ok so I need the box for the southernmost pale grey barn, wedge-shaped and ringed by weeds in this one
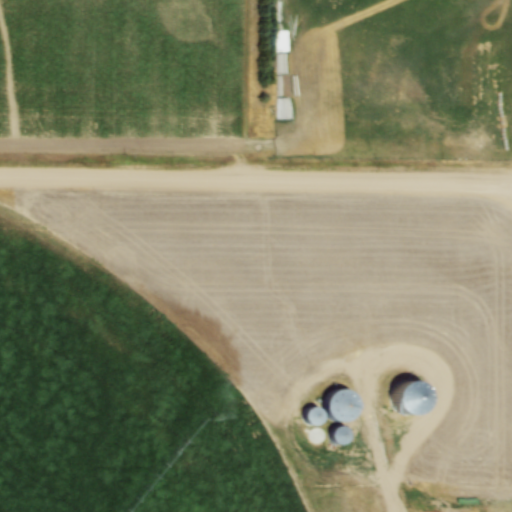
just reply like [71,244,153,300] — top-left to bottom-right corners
[275,98,294,120]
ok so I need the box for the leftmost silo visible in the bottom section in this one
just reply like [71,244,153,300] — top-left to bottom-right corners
[302,406,328,427]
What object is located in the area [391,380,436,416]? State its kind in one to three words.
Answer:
silo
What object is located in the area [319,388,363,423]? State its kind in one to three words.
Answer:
silo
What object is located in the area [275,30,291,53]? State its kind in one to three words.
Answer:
barn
